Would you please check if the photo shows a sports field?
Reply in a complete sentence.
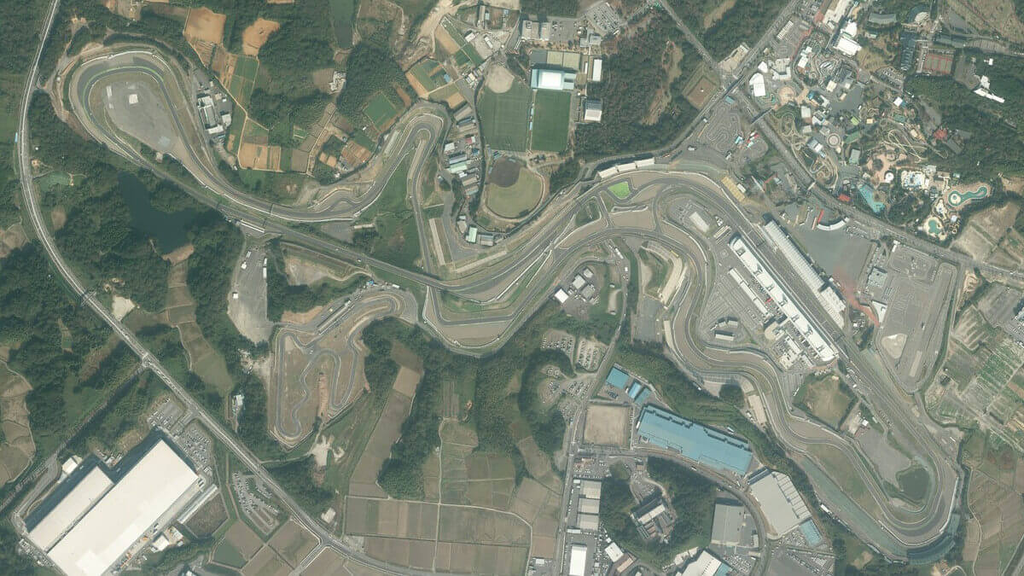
Yes, a sports field appears in the view.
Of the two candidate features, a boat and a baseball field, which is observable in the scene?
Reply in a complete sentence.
There is a baseball field in the scene.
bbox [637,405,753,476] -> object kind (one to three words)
building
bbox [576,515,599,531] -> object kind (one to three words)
building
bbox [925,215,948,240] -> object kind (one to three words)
swimming pool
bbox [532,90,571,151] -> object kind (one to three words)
soccer field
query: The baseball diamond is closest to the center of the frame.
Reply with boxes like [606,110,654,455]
[485,155,544,222]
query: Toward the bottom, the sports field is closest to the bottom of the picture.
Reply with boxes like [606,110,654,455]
[582,405,630,448]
